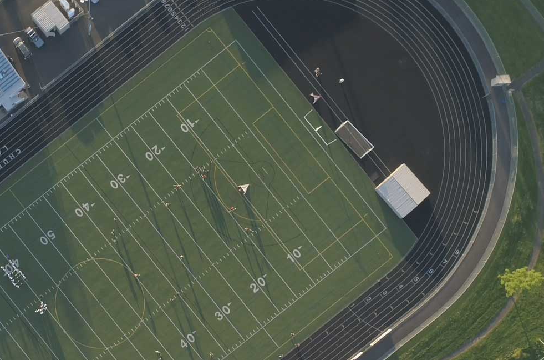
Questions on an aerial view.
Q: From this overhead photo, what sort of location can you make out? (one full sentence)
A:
This looks like a sports ground.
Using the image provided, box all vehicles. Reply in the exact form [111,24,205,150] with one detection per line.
[24,24,45,51]
[14,36,32,60]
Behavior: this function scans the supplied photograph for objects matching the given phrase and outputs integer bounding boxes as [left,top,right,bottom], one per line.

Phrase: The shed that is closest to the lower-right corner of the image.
[372,163,431,218]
